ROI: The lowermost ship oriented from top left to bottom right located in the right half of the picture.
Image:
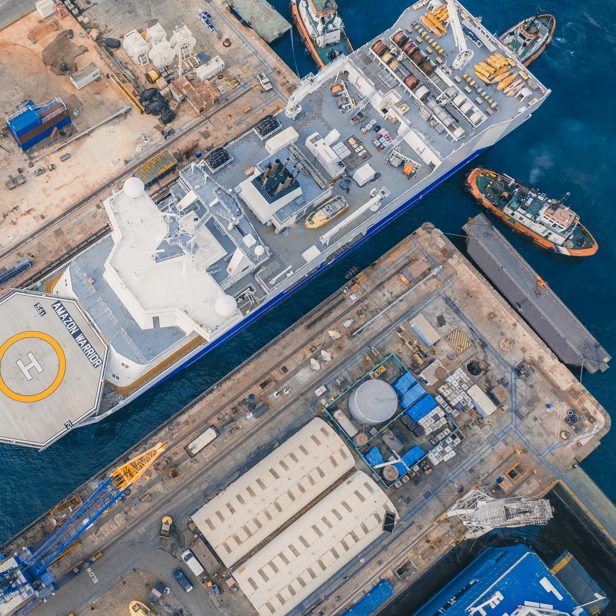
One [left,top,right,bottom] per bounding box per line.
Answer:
[457,212,615,377]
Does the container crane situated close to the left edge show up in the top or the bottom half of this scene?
bottom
